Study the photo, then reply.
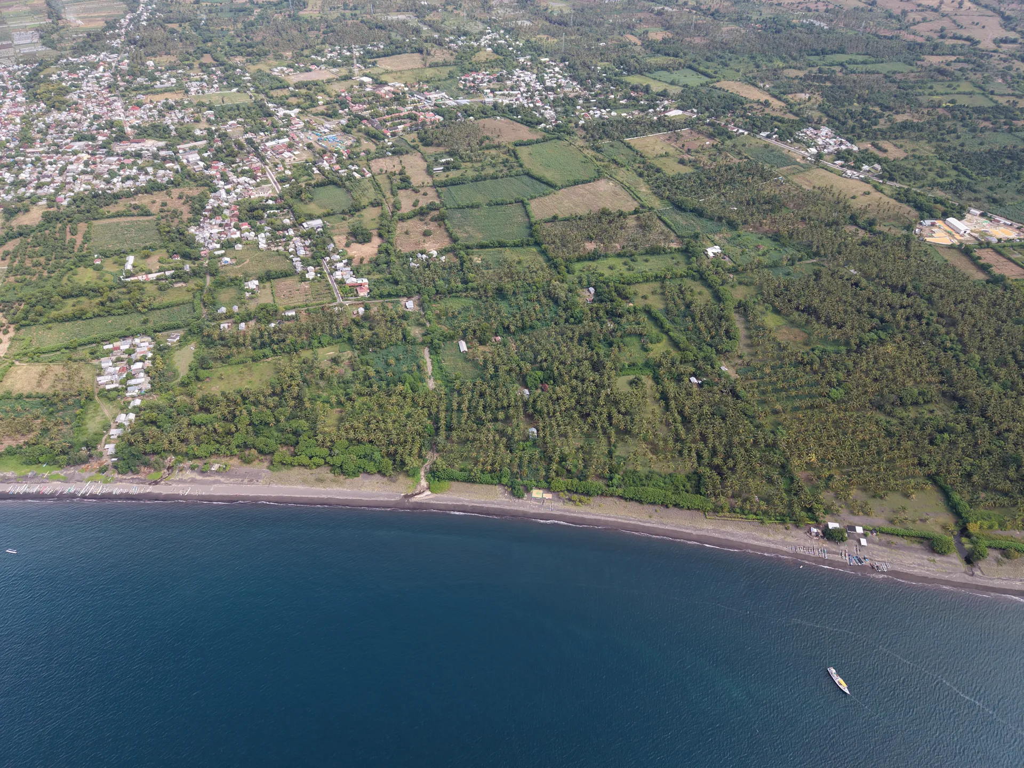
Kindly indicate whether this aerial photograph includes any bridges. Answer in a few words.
No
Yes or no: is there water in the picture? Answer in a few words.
Yes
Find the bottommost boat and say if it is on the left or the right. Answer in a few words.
right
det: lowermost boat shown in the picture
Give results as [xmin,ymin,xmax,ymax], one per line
[827,668,850,695]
